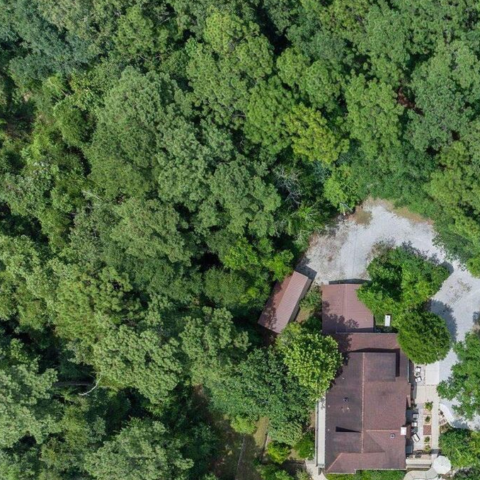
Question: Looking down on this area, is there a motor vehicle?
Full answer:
No, the picture doesn't show any motor vehicle.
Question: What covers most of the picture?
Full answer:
What you mostly see from above here is trees.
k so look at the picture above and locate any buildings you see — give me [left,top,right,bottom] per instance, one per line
[315,332,410,473]
[258,269,309,331]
